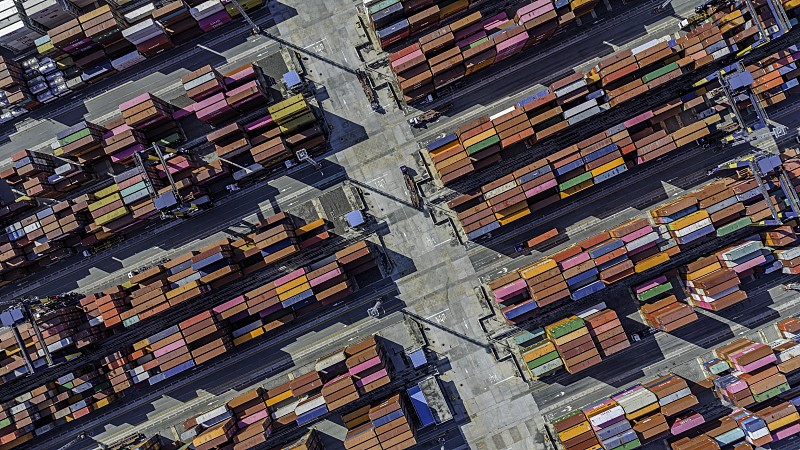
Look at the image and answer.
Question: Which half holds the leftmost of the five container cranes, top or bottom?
bottom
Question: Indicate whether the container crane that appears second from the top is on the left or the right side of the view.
right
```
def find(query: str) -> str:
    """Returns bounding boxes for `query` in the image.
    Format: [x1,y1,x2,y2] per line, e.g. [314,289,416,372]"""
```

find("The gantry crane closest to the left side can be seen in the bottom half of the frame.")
[0,288,105,381]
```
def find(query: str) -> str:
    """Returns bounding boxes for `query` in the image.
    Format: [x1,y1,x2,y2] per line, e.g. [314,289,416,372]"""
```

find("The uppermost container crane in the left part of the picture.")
[128,137,216,216]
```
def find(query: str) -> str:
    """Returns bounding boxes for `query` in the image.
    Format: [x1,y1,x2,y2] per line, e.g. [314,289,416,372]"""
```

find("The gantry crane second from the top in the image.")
[672,58,776,149]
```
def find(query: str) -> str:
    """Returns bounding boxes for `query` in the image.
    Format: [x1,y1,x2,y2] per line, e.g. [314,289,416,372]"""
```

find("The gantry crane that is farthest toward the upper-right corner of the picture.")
[690,0,798,70]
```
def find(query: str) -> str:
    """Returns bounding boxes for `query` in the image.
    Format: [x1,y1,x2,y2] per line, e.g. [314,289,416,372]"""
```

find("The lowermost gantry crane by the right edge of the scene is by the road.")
[698,148,800,232]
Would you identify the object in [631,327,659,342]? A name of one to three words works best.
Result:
vehicle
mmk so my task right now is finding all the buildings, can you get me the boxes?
[408,376,452,428]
